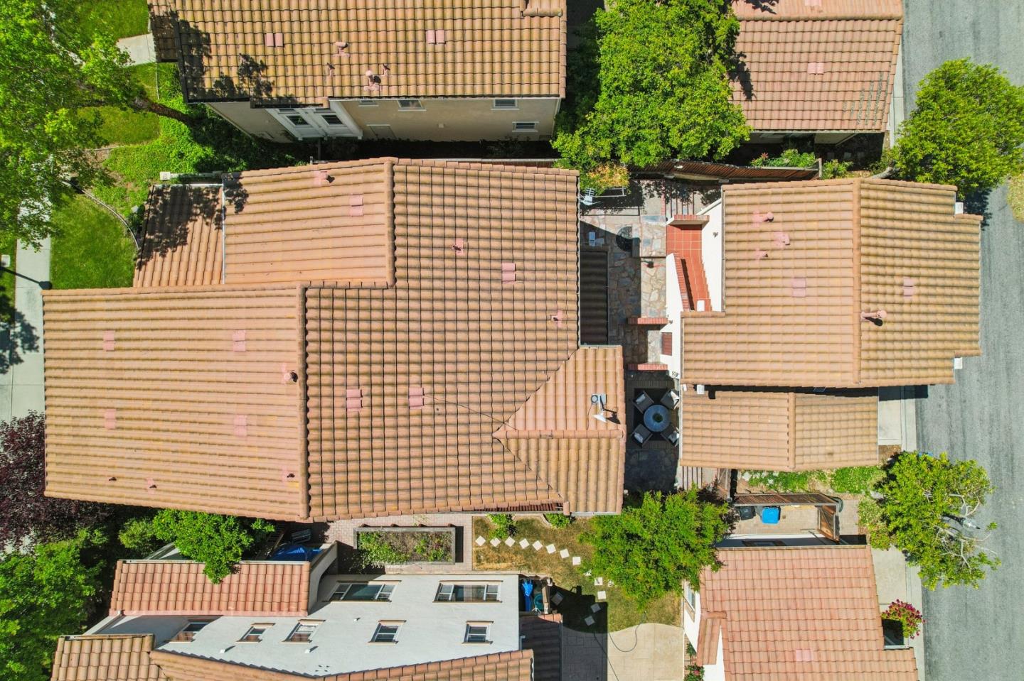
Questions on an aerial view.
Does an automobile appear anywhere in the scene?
No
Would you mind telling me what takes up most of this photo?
buildings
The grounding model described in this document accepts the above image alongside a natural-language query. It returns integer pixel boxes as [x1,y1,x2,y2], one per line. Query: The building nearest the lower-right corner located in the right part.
[684,532,922,681]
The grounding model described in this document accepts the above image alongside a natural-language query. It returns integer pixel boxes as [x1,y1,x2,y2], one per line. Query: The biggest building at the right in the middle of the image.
[660,173,986,476]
